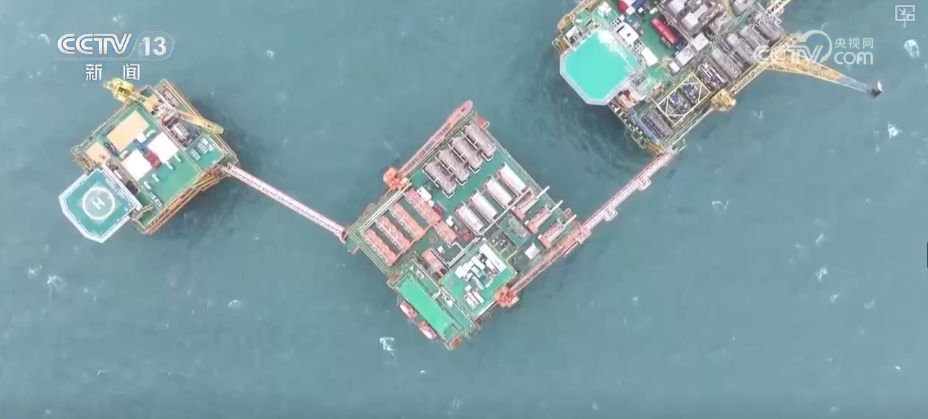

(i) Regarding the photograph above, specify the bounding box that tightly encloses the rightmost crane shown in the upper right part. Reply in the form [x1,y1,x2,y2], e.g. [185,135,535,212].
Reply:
[709,66,759,113]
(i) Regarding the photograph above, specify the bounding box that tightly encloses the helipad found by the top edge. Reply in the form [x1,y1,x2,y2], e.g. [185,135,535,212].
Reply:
[560,18,648,106]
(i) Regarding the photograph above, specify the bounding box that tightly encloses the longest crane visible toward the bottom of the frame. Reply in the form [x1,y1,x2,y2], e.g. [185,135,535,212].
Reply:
[493,232,577,310]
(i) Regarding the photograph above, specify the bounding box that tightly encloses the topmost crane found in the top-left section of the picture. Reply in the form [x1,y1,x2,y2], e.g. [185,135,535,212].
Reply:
[104,83,225,132]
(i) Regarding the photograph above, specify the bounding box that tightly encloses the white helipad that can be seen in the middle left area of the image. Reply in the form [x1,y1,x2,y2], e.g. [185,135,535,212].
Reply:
[60,157,149,243]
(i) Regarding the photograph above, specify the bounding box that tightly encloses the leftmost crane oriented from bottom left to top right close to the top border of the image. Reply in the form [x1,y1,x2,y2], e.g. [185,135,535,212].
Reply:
[555,0,594,34]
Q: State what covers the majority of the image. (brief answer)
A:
water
